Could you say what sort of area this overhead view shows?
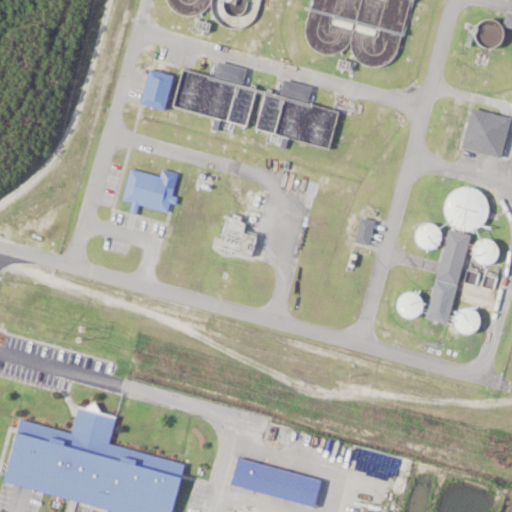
industrial area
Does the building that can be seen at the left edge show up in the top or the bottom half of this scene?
bottom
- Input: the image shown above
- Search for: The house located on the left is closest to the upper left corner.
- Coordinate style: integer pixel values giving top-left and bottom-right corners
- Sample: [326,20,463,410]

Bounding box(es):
[139,68,176,112]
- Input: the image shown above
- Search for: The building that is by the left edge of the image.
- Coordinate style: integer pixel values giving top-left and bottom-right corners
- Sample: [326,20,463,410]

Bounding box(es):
[4,401,186,512]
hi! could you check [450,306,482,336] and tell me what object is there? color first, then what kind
white storage tank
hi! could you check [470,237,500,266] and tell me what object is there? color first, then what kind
white storage tank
